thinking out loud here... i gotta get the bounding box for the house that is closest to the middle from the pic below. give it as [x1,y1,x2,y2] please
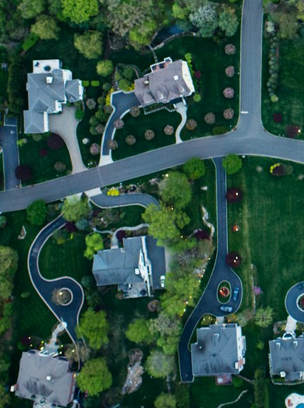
[92,236,153,296]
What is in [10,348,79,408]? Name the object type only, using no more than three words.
house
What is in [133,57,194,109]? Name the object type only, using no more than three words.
house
